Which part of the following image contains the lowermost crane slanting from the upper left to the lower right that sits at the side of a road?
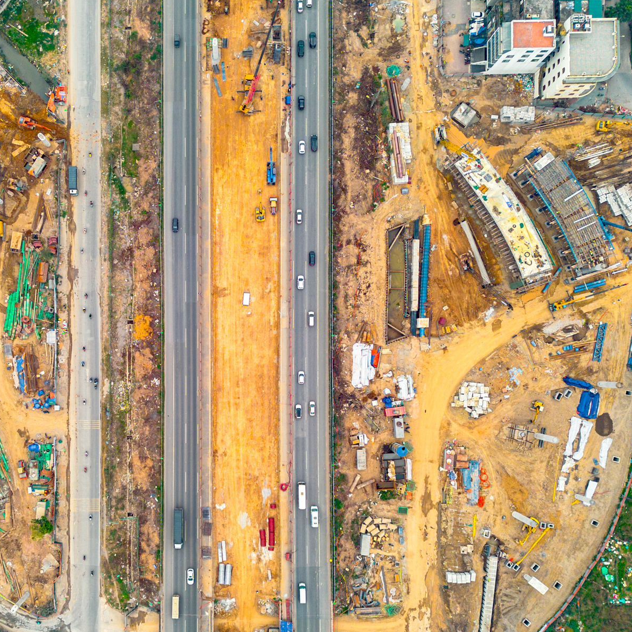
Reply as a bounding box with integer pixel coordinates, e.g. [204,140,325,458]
[454,253,514,311]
